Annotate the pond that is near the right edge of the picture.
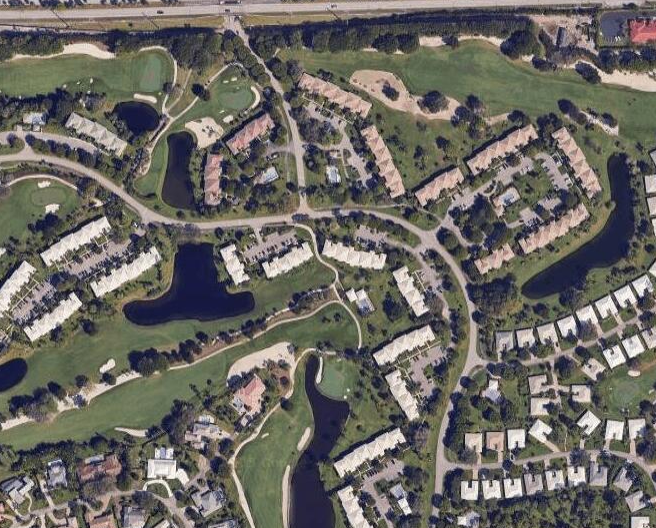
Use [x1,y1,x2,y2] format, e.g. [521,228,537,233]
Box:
[521,151,635,299]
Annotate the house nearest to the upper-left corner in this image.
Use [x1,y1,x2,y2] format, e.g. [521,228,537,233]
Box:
[17,111,45,130]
